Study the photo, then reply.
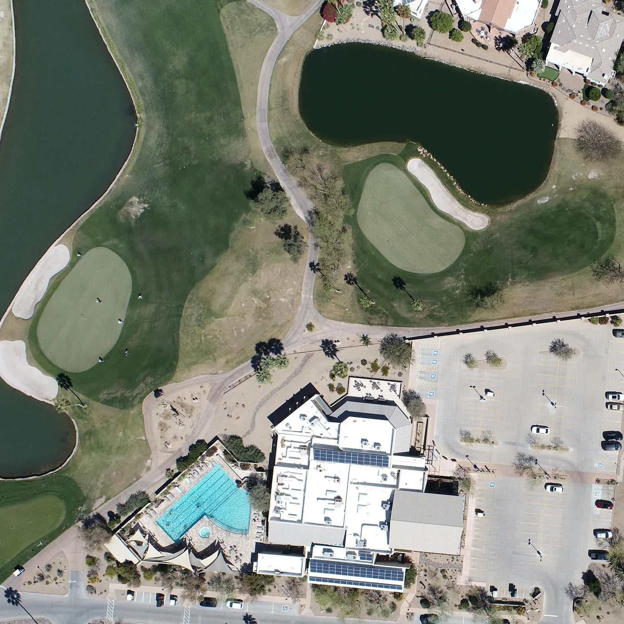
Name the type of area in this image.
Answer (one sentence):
This looks like a golf course.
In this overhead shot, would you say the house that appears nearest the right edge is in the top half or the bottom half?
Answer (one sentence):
The house that appears nearest the right edge is in the top half of the image.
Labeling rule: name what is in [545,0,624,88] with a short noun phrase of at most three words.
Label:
house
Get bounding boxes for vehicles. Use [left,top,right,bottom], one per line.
[13,568,25,576]
[602,443,621,451]
[157,595,165,606]
[226,599,244,608]
[595,500,613,509]
[421,614,439,624]
[614,329,624,338]
[171,597,179,606]
[594,530,611,540]
[201,598,219,607]
[128,592,136,601]
[607,392,624,400]
[607,403,624,411]
[589,551,609,561]
[532,426,550,435]
[477,511,486,517]
[603,432,622,440]
[493,589,499,598]
[546,485,564,493]
[487,391,495,397]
